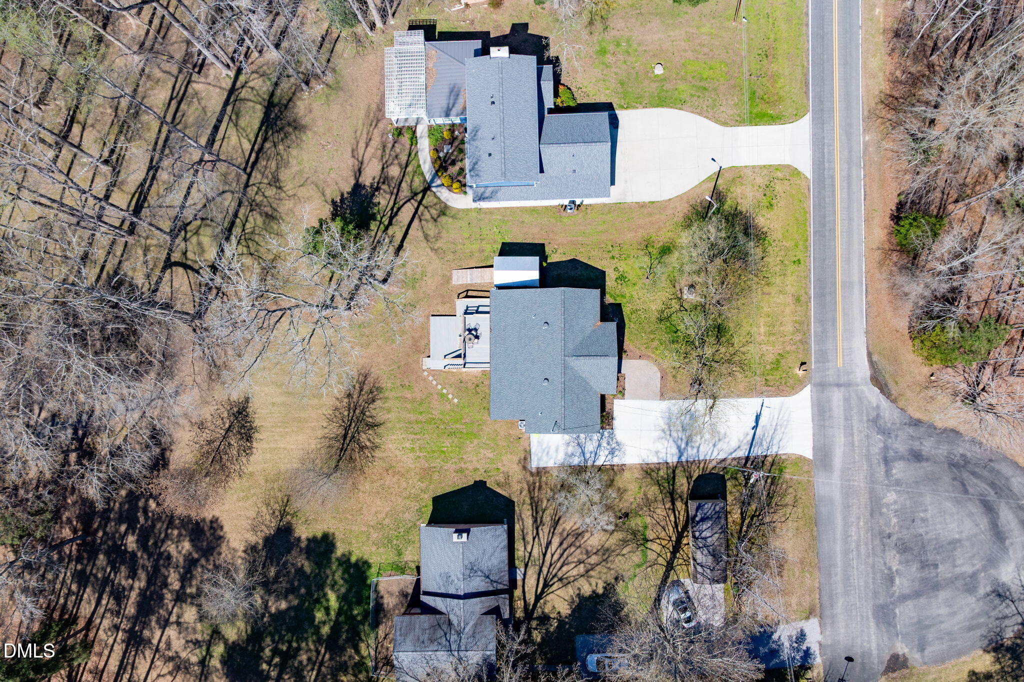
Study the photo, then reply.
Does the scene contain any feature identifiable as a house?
Yes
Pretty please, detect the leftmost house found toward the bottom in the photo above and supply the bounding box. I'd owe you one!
[393,512,510,682]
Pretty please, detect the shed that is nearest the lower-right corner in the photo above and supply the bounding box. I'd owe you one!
[686,499,728,587]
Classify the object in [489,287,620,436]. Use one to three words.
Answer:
house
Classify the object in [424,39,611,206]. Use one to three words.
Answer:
house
